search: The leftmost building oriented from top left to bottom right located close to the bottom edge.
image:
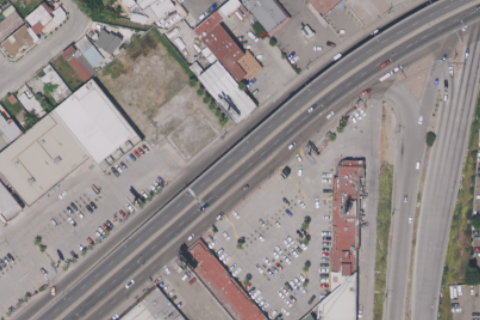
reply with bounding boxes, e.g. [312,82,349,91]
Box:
[186,238,268,320]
